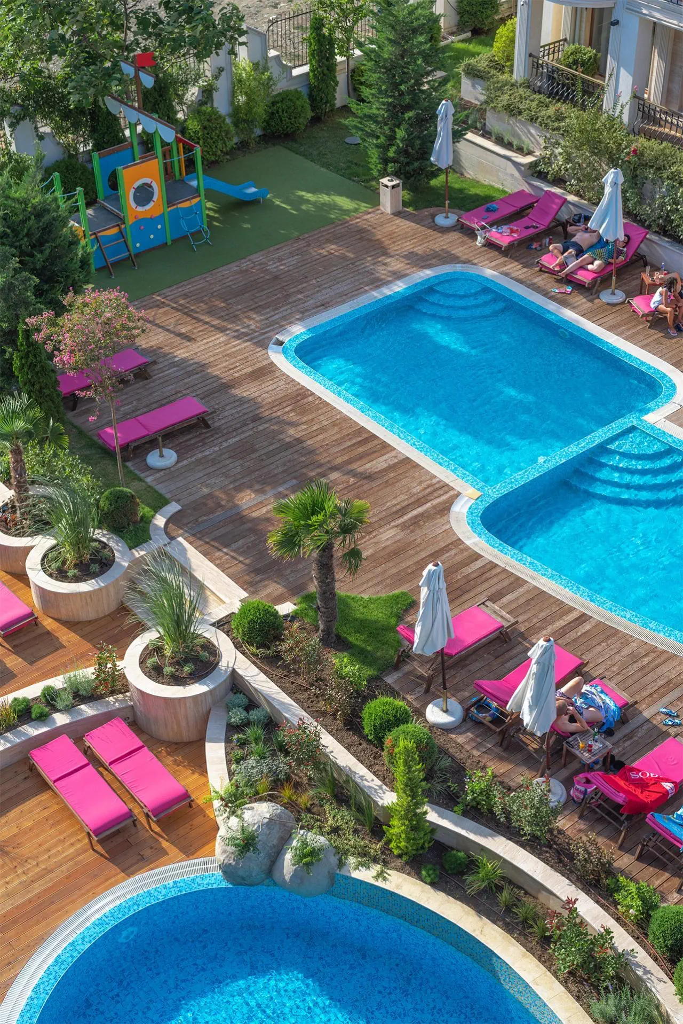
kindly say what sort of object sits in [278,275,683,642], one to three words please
swimming pool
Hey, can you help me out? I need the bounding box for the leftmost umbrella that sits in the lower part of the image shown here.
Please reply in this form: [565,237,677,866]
[407,558,462,727]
